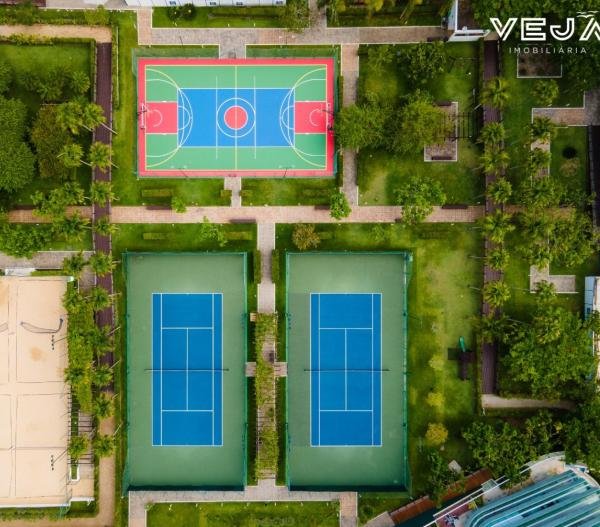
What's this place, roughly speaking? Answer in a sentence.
It's a sports ground.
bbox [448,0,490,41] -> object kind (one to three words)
building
